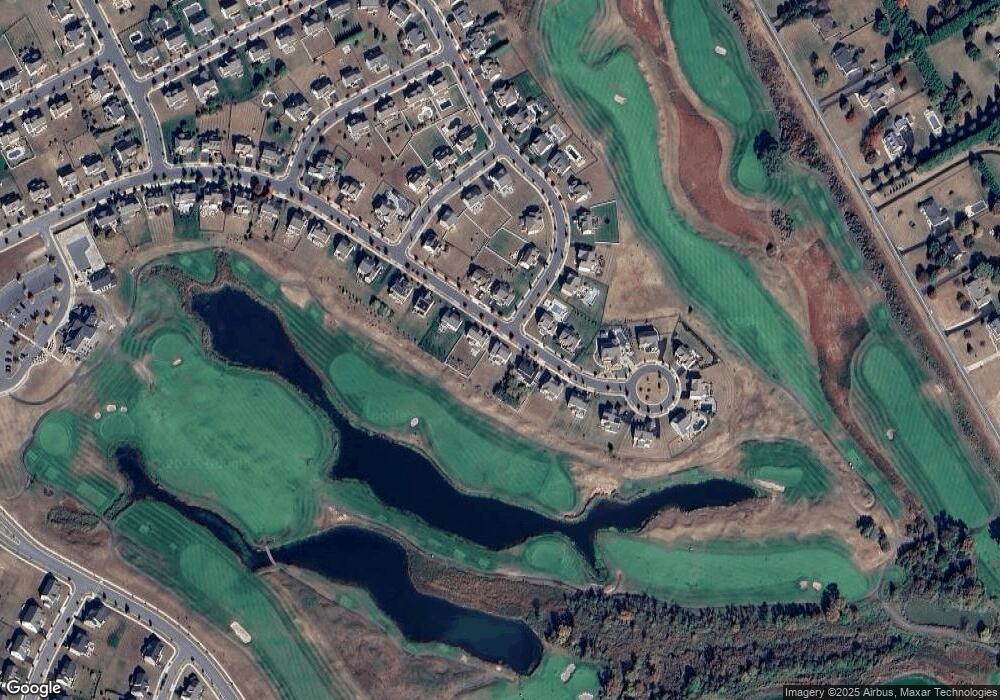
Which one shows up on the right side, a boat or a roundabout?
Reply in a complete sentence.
Looking on the right side, you will find a roundabout.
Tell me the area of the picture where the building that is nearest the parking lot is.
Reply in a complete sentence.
The building that is nearest the parking lot is in the left part of the image.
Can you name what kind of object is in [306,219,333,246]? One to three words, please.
house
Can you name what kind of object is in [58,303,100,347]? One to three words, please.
building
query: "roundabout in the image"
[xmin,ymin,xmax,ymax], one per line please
[629,364,680,412]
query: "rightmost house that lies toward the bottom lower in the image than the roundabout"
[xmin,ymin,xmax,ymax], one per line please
[671,413,700,438]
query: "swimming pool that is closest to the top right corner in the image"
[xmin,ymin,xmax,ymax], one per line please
[924,112,944,133]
